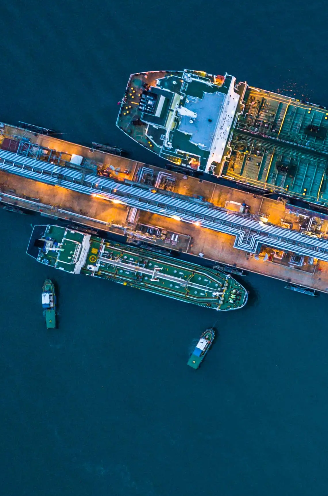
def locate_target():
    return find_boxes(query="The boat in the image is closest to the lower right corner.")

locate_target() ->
[186,327,216,369]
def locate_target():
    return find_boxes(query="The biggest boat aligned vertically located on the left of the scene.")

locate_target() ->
[39,279,58,329]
